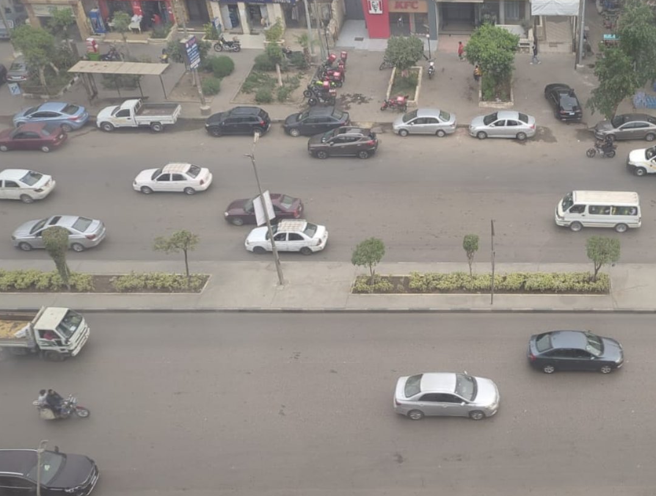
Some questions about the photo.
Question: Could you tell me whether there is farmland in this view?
No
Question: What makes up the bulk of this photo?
paved ground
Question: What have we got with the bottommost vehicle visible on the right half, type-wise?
automobile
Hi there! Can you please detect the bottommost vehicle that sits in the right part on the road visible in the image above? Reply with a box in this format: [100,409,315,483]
[388,370,500,419]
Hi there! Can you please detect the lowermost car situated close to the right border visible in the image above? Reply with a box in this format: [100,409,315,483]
[523,328,627,373]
